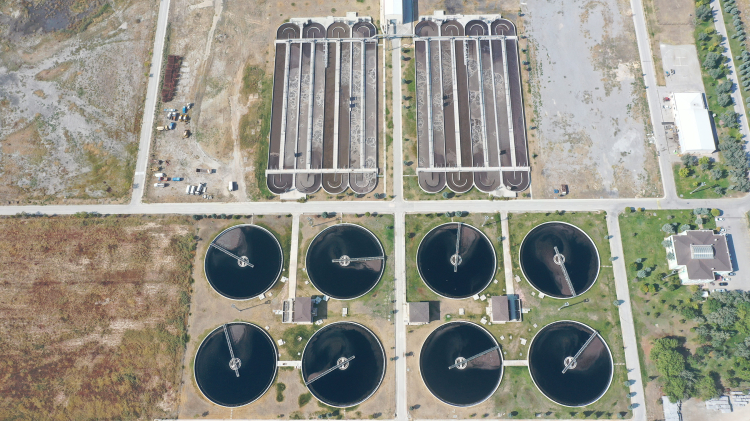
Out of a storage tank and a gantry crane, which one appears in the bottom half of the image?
storage tank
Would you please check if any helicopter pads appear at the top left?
No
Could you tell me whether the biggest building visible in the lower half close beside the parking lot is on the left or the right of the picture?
right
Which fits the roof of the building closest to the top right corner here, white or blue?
white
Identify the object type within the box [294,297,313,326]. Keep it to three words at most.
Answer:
building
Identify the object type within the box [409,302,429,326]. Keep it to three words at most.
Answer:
building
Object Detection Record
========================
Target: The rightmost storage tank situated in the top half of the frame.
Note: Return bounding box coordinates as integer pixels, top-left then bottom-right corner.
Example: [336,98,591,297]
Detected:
[413,8,530,198]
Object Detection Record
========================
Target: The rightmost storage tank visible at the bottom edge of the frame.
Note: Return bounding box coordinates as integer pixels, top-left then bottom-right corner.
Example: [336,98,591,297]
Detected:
[527,321,614,407]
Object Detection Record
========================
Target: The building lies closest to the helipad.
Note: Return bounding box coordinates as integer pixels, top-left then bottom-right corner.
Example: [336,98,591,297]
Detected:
[671,92,716,154]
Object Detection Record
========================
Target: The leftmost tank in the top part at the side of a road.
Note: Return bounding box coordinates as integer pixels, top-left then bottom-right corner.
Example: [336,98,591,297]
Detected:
[266,10,377,201]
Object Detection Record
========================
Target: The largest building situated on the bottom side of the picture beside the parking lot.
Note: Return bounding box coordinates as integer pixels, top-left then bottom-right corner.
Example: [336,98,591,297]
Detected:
[658,230,733,285]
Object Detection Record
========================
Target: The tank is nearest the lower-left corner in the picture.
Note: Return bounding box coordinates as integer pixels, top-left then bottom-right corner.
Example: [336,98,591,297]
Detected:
[194,321,278,408]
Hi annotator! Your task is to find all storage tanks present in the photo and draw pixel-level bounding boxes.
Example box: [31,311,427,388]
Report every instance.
[519,221,601,299]
[194,321,278,408]
[417,222,497,299]
[305,223,385,300]
[266,10,377,201]
[413,8,530,198]
[204,224,283,301]
[419,321,504,407]
[527,321,614,407]
[301,321,385,407]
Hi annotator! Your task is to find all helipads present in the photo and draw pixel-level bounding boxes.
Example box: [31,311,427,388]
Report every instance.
[658,44,703,91]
